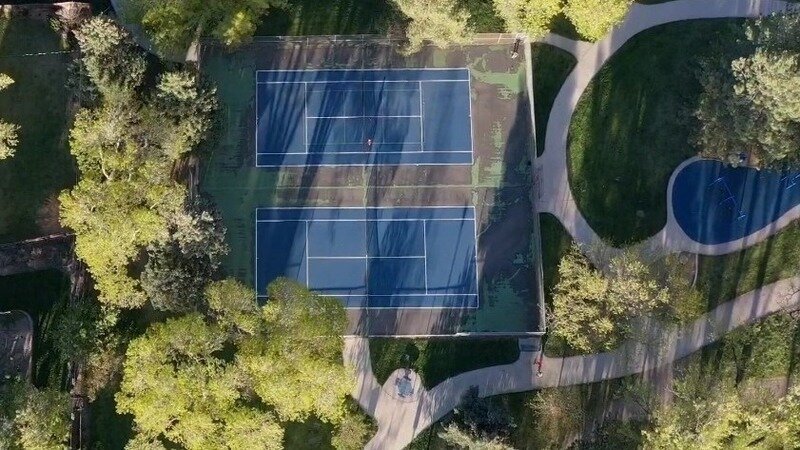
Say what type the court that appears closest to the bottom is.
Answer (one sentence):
It turns out the court that appears closest to the bottom is a tennis court.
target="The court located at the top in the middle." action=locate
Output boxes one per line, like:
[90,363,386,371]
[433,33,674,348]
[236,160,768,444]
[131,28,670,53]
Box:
[256,58,472,174]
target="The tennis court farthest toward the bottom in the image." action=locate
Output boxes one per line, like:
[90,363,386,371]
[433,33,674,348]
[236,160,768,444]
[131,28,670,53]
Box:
[255,198,477,318]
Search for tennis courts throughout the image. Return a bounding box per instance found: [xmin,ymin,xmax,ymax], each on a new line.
[255,198,477,318]
[256,58,472,174]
